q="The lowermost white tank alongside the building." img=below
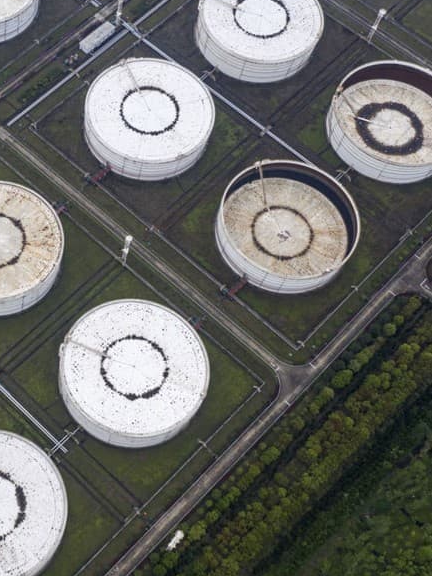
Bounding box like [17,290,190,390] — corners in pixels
[80,56,216,182]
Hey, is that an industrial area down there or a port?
industrial area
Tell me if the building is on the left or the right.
left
